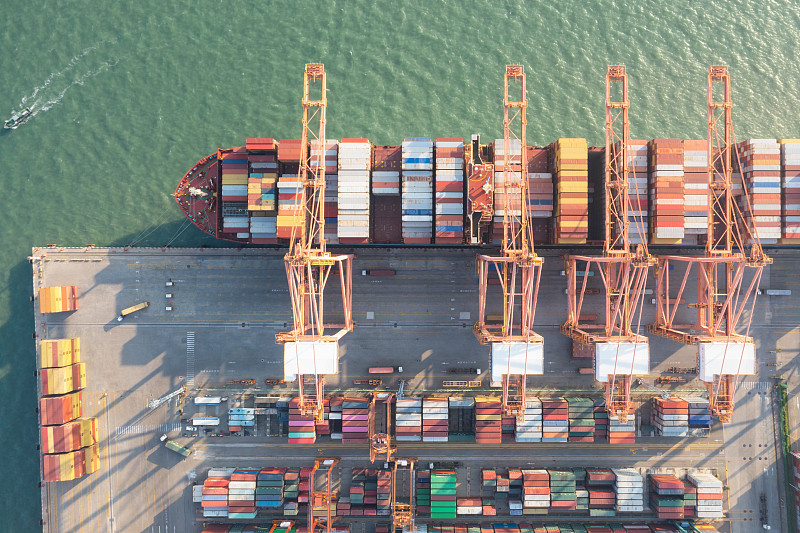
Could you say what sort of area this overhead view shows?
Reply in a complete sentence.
What you see here is a port.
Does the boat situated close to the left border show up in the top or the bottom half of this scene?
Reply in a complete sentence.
The boat situated close to the left border sits in the top half of the picture.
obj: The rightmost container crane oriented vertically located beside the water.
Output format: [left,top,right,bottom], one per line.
[644,63,779,430]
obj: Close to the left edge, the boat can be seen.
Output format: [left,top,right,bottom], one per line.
[3,106,30,127]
